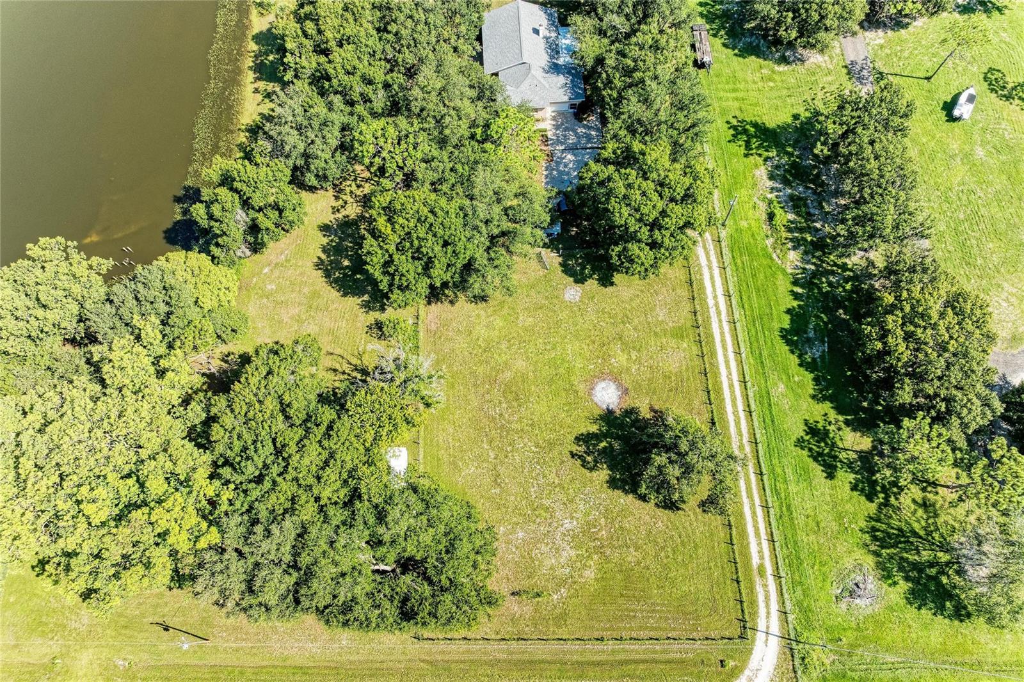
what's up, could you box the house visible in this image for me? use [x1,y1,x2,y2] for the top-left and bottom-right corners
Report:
[485,0,585,118]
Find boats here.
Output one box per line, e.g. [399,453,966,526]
[951,86,979,124]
